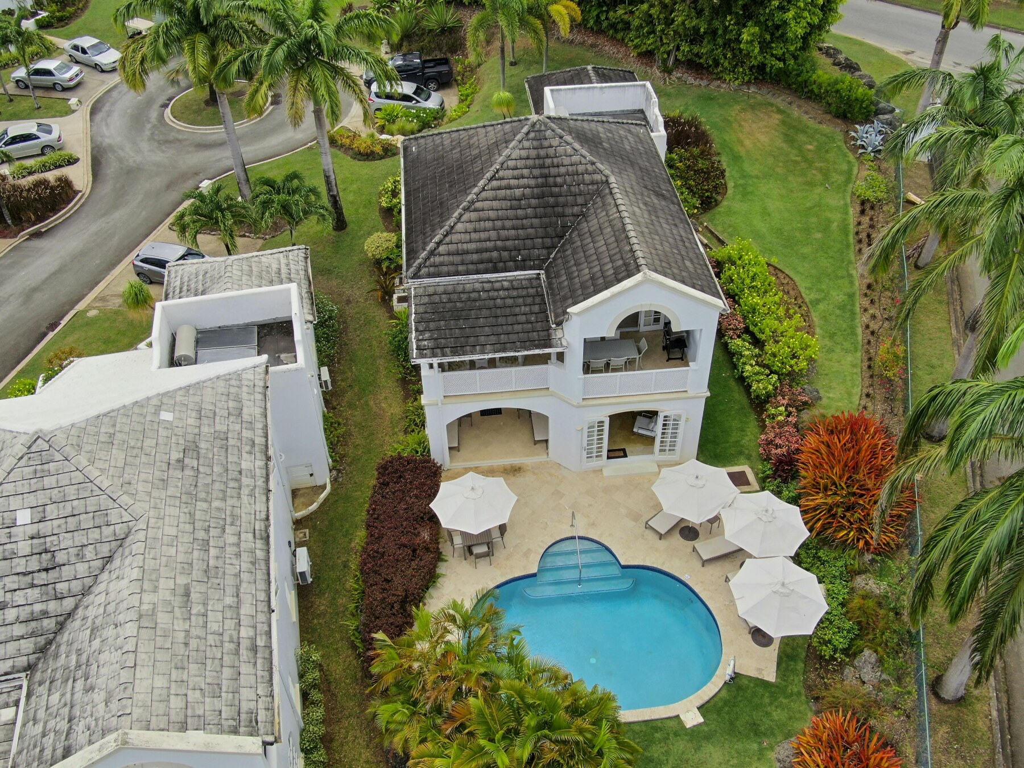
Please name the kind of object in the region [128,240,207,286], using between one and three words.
car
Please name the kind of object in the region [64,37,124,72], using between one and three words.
car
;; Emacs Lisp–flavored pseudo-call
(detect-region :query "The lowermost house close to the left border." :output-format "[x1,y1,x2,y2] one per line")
[0,243,341,768]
